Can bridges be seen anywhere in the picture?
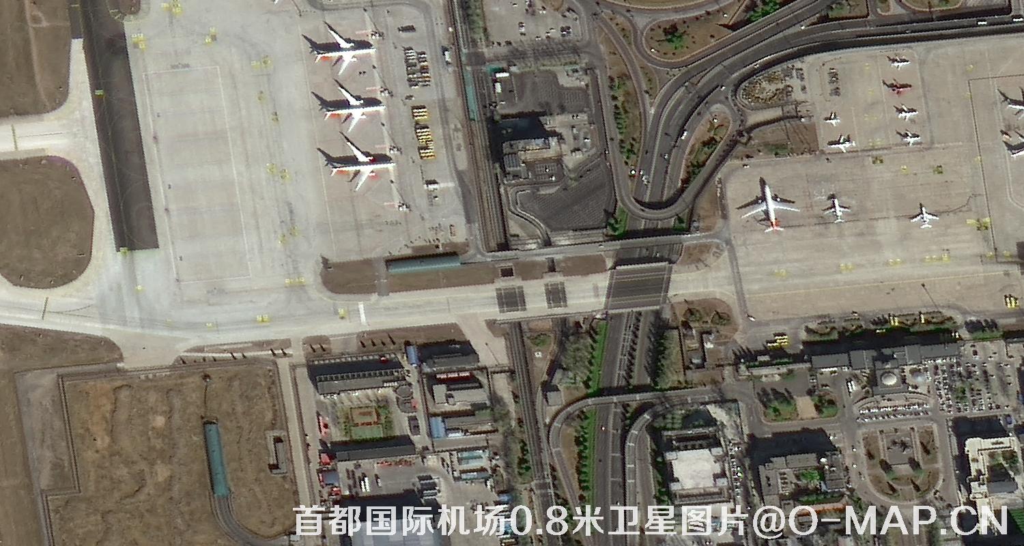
Yes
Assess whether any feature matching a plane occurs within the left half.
Yes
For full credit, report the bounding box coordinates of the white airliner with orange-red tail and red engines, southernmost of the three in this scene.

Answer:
[331,140,396,195]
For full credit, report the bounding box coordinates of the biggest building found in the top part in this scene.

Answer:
[500,130,562,159]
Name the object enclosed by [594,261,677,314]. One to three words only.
bridge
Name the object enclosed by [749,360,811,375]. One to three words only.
building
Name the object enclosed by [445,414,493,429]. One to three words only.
building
